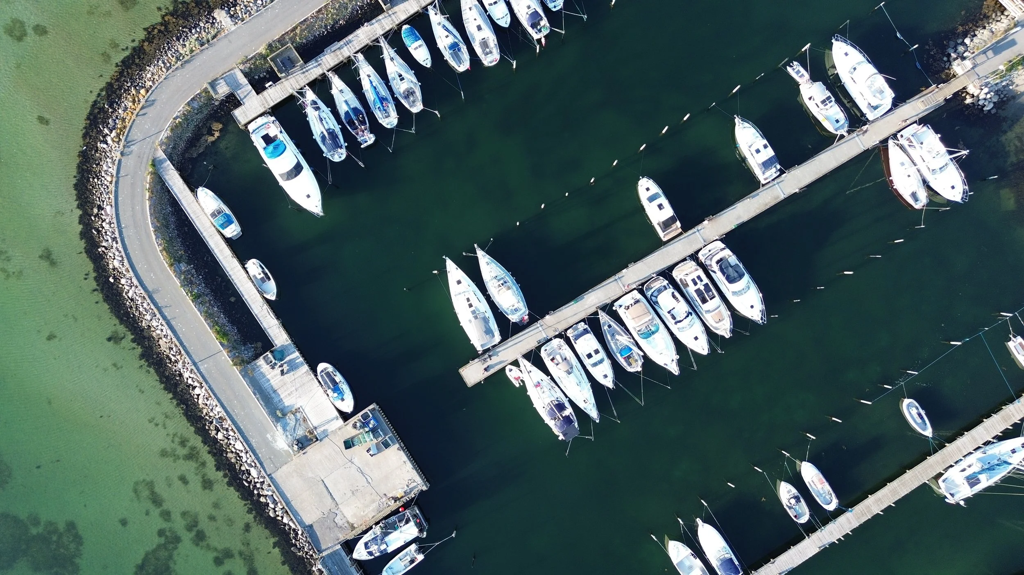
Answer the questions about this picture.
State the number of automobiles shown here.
0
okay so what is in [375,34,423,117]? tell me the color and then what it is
white boat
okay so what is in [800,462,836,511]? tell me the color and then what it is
white boat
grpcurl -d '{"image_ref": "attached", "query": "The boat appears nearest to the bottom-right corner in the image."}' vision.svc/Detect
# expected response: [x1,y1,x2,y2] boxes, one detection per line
[933,438,1024,508]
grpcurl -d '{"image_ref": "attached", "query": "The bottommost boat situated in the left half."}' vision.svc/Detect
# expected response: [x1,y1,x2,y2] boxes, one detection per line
[378,544,424,575]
